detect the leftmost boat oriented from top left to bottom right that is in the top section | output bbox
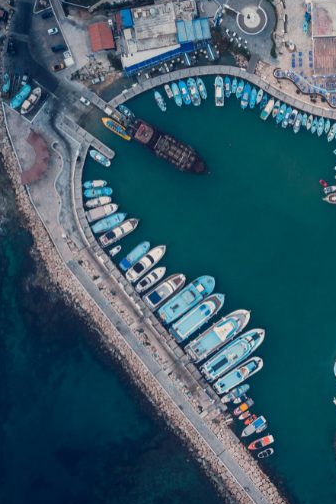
[86,151,111,167]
